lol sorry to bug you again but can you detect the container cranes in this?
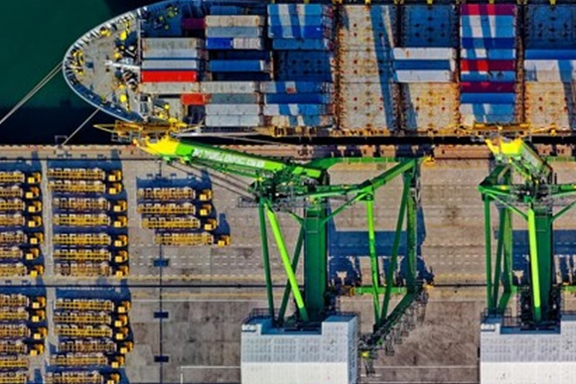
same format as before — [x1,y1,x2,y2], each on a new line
[451,118,576,384]
[97,118,444,384]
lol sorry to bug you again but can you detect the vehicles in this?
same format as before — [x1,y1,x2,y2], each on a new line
[0,266,47,279]
[0,296,50,310]
[138,205,215,217]
[56,299,134,313]
[156,234,233,246]
[46,373,123,384]
[143,218,220,231]
[0,341,48,356]
[0,215,46,227]
[53,234,132,248]
[53,215,130,228]
[0,326,51,340]
[48,169,125,181]
[138,189,215,202]
[0,248,44,261]
[54,250,132,263]
[0,232,47,245]
[55,326,133,340]
[50,354,128,370]
[53,199,130,212]
[59,341,137,356]
[54,265,133,278]
[54,314,132,328]
[0,310,49,324]
[0,188,44,201]
[0,201,46,213]
[49,182,126,195]
[0,173,45,185]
